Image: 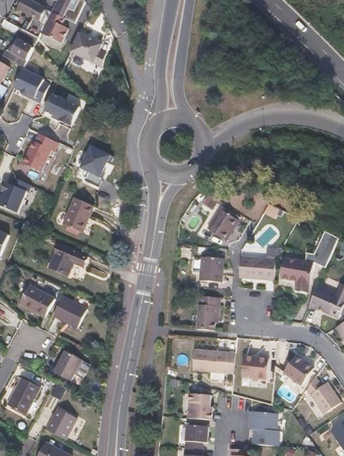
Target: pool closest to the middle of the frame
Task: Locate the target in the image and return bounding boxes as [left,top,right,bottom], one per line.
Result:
[188,212,204,230]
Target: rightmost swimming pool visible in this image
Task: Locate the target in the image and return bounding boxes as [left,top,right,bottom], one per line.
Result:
[277,386,298,403]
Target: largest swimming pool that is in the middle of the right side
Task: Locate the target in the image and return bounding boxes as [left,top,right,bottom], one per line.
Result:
[255,224,280,248]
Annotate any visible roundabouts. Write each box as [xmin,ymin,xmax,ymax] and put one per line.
[142,110,212,182]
